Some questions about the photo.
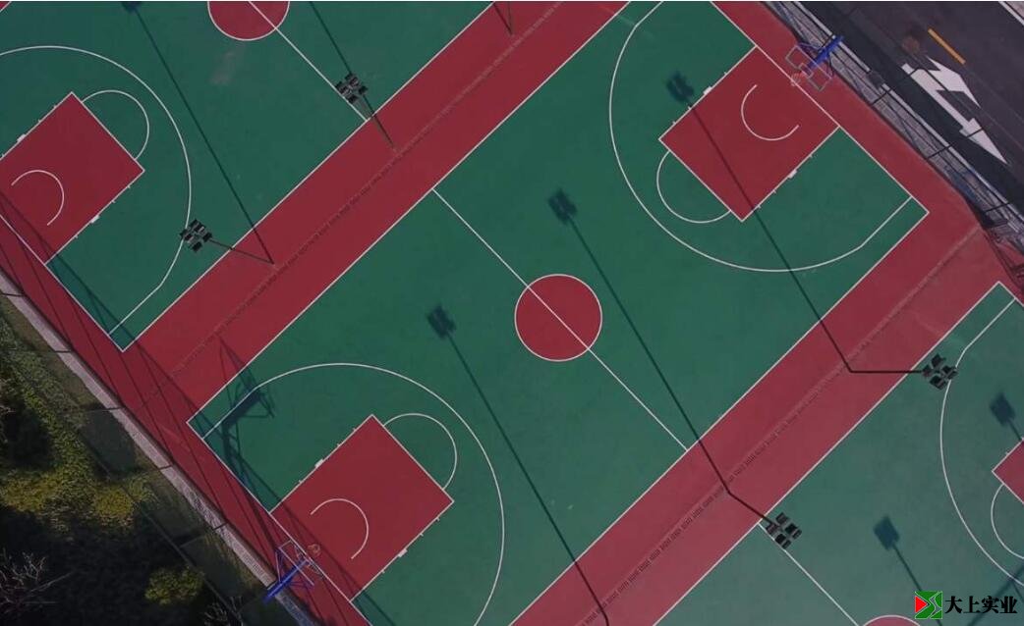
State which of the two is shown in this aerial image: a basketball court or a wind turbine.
basketball court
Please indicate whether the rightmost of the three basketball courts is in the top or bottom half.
bottom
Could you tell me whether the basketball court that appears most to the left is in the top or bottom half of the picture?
top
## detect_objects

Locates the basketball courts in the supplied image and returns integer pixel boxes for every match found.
[187,0,931,626]
[0,0,495,352]
[653,280,1024,626]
